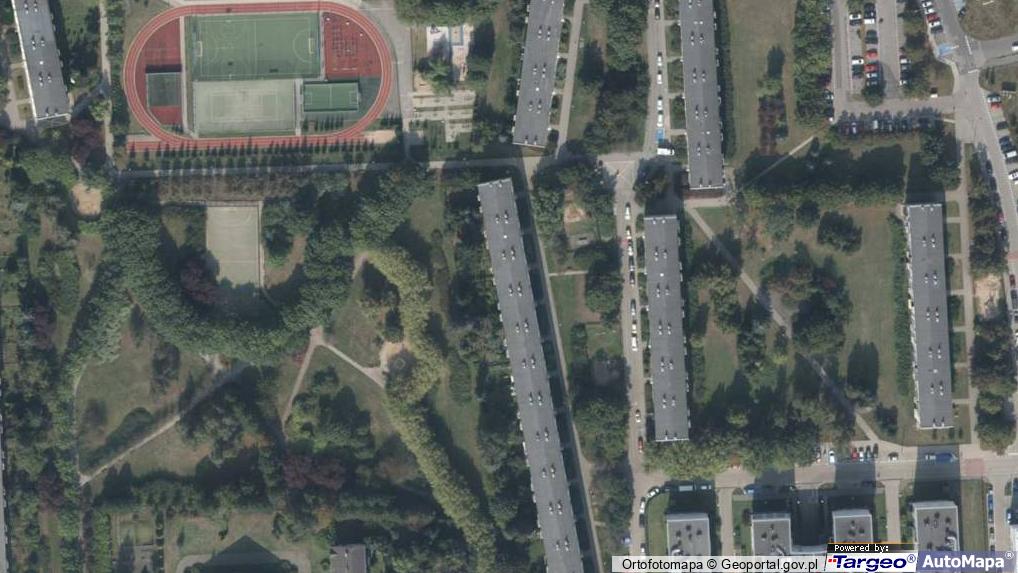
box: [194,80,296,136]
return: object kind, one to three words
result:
sports court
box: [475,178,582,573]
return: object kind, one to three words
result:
building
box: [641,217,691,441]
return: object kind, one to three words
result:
building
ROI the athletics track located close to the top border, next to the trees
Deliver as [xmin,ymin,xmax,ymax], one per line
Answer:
[123,0,394,152]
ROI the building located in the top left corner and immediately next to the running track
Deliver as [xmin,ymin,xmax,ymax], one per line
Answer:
[15,0,78,121]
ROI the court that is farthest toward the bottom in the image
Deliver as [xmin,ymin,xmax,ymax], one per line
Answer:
[206,206,259,290]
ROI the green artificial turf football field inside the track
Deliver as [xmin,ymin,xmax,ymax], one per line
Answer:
[193,16,318,81]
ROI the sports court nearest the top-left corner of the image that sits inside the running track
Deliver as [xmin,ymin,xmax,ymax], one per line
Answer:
[147,76,181,106]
